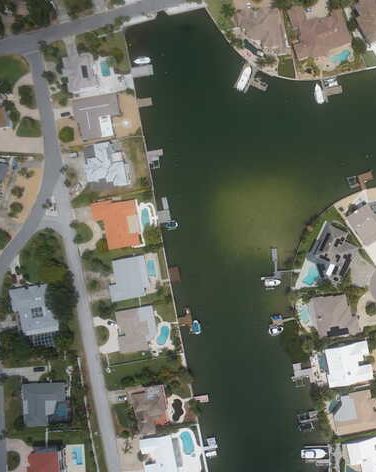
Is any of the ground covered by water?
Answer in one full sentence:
Yes, some water is visible.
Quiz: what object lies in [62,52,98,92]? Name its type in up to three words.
house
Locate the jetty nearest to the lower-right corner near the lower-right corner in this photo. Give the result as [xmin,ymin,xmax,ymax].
[303,443,333,472]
